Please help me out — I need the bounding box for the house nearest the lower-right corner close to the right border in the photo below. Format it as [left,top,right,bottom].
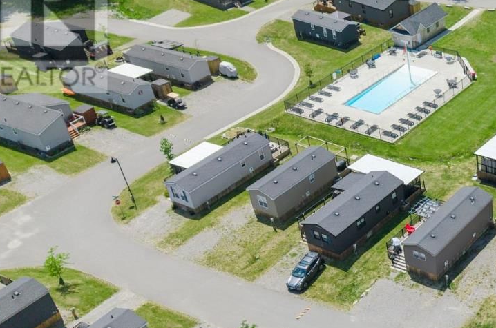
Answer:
[402,188,494,281]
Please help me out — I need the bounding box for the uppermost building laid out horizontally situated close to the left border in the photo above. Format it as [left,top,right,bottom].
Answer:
[10,20,104,71]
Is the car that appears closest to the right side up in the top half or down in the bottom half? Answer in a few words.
bottom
